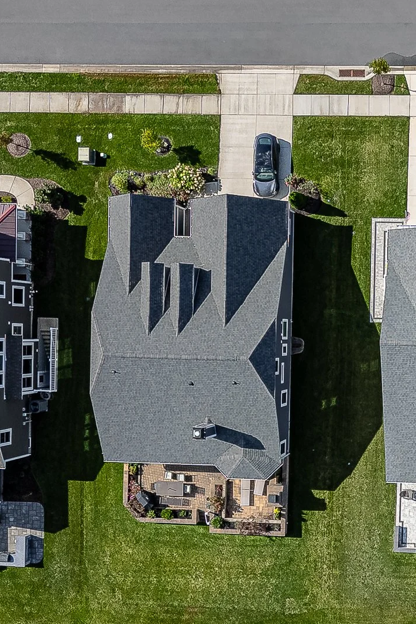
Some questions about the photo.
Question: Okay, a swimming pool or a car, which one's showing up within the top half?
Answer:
car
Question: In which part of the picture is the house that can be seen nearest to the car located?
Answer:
center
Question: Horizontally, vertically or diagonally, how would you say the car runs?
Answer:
vertically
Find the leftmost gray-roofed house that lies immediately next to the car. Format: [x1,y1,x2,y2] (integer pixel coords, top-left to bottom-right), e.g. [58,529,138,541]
[89,194,297,481]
